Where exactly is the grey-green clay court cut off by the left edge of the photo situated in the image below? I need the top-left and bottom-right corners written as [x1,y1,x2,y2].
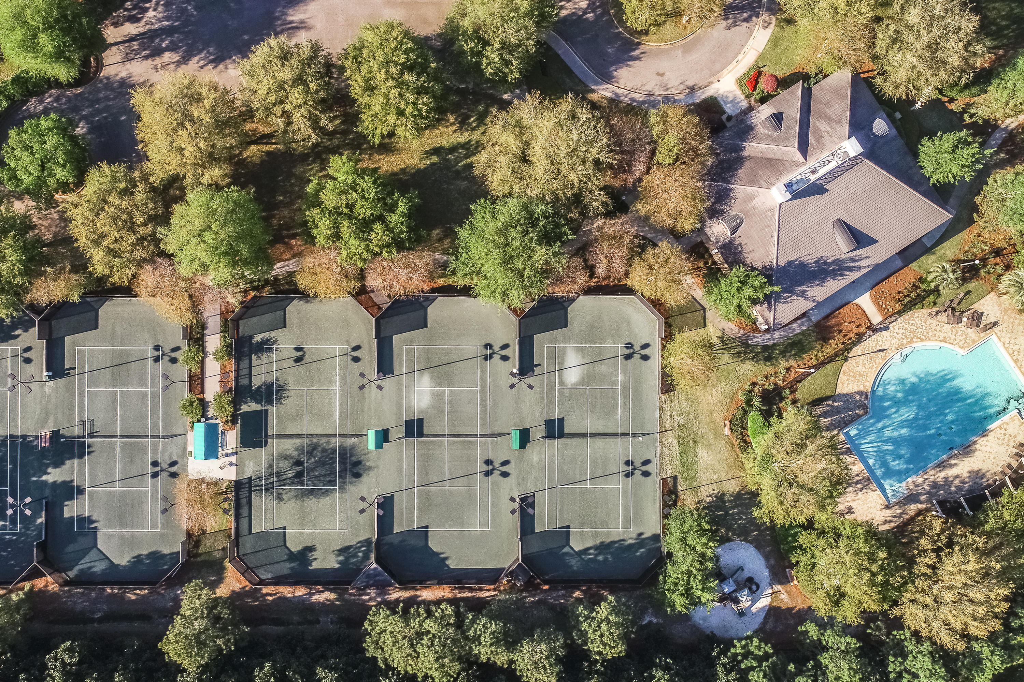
[0,300,45,582]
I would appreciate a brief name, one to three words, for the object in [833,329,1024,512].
swimming pool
